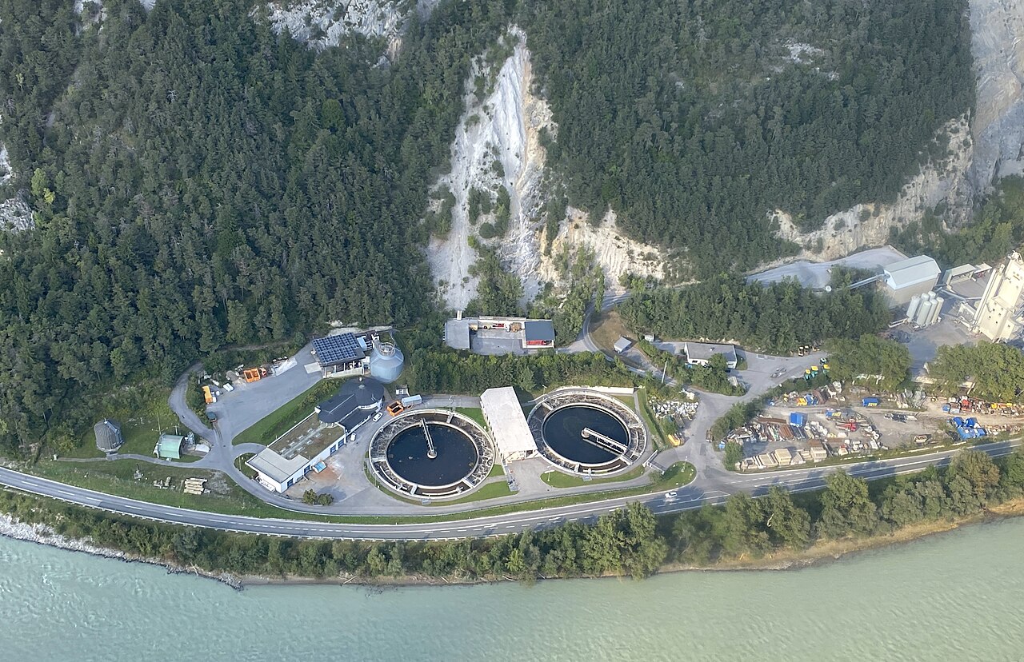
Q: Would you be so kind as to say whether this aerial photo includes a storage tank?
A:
Yes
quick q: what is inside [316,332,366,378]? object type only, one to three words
shed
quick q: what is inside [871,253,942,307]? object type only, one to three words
building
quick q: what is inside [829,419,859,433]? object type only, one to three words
vehicle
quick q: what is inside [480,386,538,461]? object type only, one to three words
building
